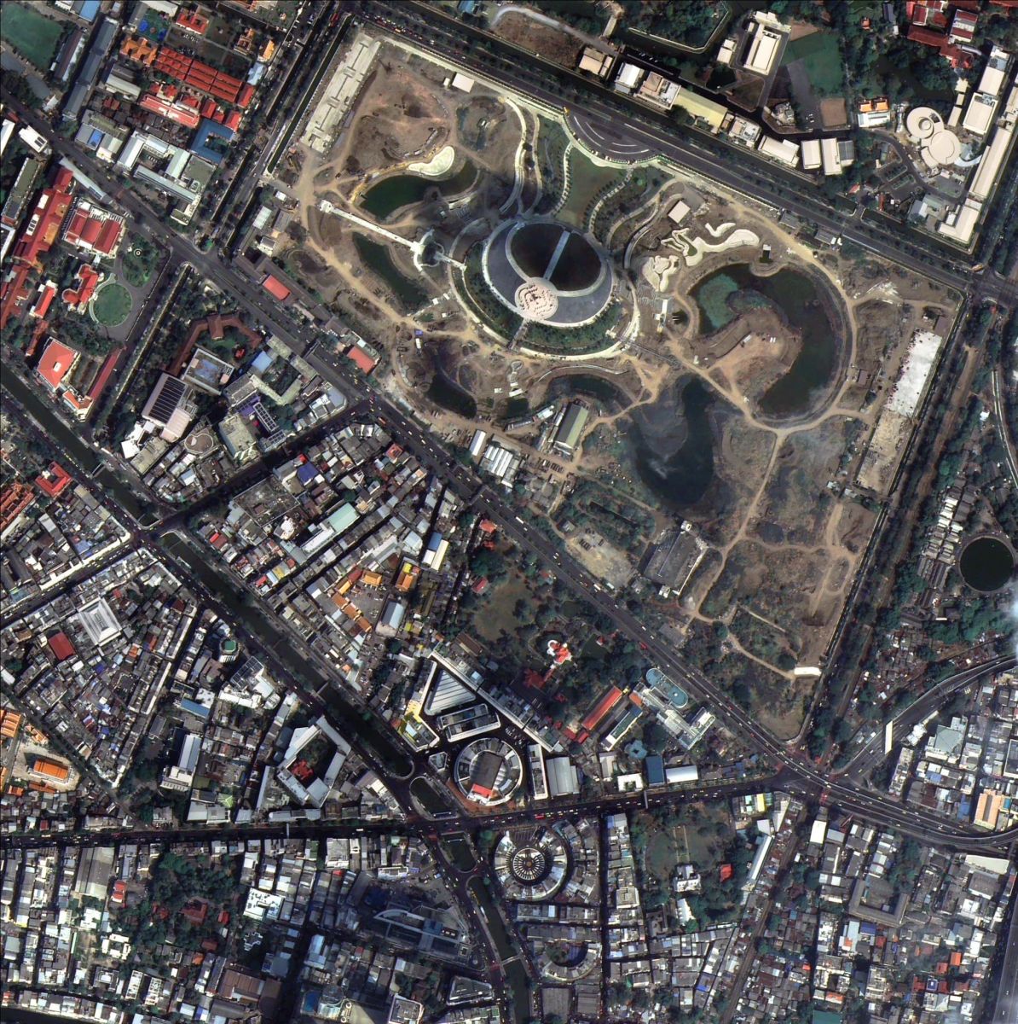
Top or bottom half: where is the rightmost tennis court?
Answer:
top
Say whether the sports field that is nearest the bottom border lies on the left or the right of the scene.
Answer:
right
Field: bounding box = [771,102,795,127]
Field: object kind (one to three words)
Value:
house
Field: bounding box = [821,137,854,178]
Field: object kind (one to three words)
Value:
building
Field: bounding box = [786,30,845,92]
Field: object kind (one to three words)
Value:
sports field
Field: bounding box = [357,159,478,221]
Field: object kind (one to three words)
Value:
pond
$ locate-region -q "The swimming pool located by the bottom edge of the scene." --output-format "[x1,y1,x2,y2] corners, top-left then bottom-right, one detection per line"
[303,990,320,1014]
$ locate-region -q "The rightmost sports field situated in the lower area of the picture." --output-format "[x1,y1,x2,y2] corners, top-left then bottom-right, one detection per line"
[644,823,721,875]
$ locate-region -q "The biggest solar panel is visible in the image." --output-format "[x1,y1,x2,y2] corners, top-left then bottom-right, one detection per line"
[151,378,186,419]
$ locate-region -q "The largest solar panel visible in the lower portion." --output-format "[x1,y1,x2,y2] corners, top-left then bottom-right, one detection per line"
[234,660,260,688]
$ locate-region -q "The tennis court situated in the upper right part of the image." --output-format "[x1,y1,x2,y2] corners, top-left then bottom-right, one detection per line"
[822,98,847,127]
